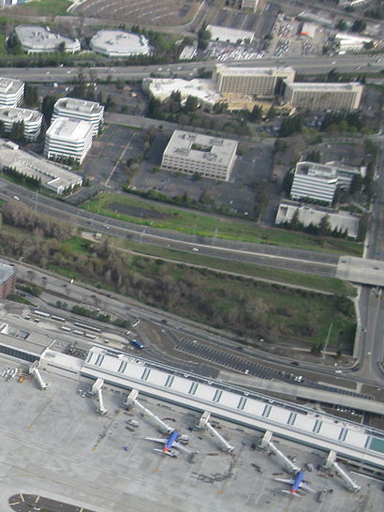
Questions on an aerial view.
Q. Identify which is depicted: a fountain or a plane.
plane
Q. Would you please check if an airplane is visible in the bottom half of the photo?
Yes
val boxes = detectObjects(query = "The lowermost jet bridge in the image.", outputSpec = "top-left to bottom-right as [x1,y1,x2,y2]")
[335,459,361,493]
